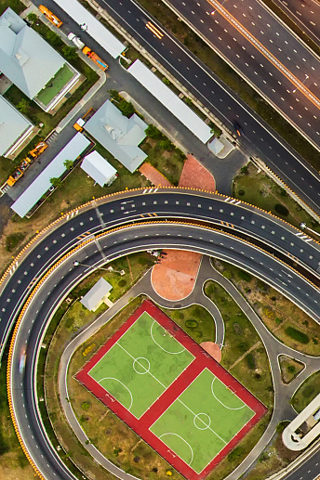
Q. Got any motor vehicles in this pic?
Yes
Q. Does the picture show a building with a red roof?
No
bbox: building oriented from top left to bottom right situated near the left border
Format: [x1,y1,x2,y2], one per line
[0,1,87,115]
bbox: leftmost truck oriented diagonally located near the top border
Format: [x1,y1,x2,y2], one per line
[37,3,59,25]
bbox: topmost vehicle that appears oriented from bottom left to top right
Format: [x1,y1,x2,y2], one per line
[73,109,91,128]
